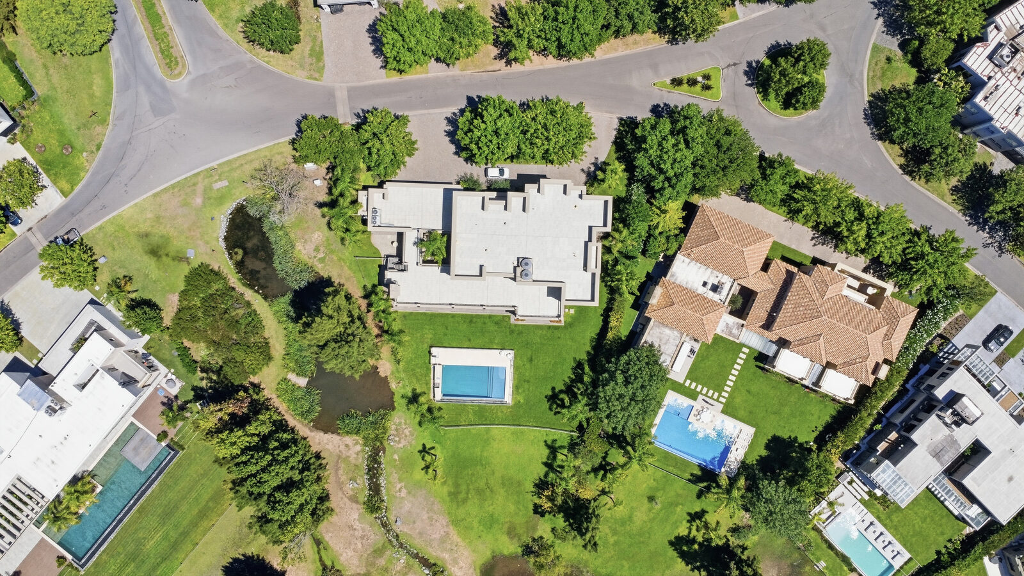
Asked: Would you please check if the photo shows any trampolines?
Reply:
No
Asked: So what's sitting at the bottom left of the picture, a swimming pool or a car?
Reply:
swimming pool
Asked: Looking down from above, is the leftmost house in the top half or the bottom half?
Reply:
top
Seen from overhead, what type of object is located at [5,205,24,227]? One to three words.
car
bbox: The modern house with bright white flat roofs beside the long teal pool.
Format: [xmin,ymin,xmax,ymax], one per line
[0,304,162,564]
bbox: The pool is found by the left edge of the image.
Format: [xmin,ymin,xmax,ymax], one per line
[39,418,177,569]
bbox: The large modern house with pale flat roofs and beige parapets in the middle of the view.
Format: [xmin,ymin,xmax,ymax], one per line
[359,179,612,322]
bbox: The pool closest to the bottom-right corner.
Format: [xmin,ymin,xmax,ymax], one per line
[814,486,912,576]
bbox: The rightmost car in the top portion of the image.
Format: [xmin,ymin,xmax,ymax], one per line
[485,167,509,179]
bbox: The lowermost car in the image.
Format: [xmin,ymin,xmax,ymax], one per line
[983,324,1012,351]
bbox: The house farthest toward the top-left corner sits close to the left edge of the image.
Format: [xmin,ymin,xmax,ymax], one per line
[0,93,31,157]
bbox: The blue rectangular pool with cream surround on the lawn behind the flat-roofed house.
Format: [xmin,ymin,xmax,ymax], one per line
[431,348,514,405]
